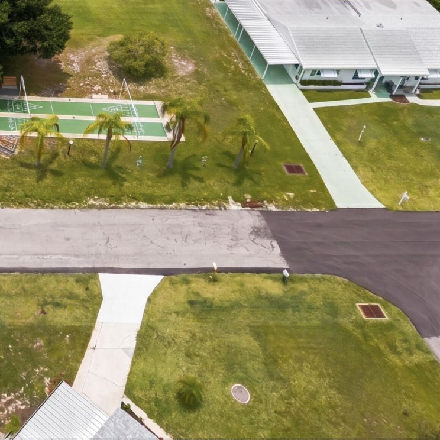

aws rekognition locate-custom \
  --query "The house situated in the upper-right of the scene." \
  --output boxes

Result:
[215,0,440,94]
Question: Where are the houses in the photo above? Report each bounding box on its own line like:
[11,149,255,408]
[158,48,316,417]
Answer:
[11,379,155,440]
[215,0,440,94]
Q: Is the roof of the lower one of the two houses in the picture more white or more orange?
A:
white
